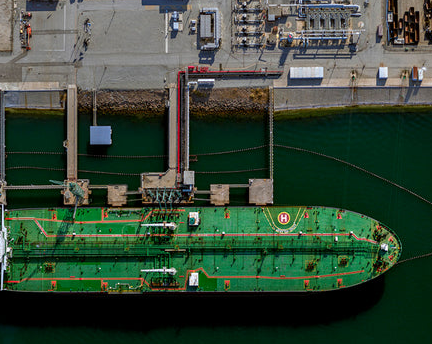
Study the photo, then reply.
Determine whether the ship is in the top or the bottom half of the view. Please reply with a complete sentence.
The ship sits in the bottom half of the picture.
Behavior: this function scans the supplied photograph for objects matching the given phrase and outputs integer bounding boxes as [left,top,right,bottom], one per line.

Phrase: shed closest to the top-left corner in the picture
[90,125,113,145]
